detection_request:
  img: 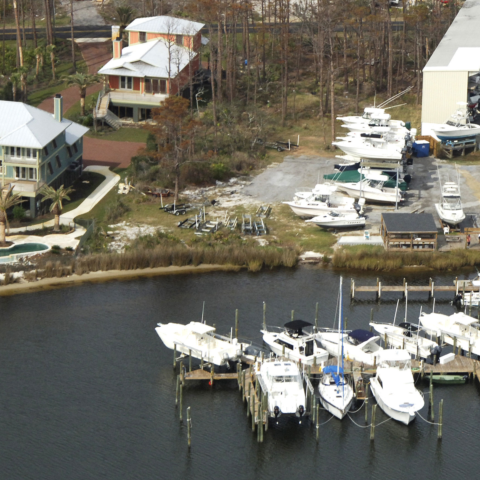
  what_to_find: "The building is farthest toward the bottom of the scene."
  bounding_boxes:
[384,211,438,253]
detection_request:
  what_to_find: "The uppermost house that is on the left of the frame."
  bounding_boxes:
[83,13,214,130]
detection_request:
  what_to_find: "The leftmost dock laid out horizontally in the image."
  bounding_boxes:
[183,365,241,388]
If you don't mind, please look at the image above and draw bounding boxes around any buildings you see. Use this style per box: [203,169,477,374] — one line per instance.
[0,88,97,223]
[421,0,480,135]
[384,211,438,253]
[83,13,214,130]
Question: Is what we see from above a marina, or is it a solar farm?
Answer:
marina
